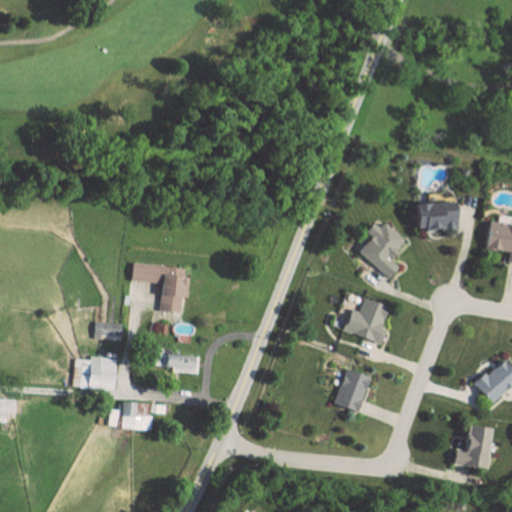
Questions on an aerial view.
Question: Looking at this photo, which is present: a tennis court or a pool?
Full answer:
I can see a pool in this picture.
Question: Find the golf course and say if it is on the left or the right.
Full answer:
You can find the golf course on the left side of the picture.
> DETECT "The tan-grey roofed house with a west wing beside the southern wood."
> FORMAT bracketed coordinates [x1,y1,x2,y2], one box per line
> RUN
[454,425,498,470]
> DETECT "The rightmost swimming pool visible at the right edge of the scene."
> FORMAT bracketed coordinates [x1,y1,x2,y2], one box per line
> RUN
[492,190,512,210]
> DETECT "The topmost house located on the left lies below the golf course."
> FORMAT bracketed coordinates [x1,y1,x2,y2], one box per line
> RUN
[131,262,190,313]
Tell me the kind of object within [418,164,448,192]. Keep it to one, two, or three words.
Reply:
swimming pool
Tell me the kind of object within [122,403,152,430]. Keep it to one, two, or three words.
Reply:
building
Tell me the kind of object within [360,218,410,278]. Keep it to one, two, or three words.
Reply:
house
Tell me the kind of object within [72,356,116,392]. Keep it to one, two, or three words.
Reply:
barn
